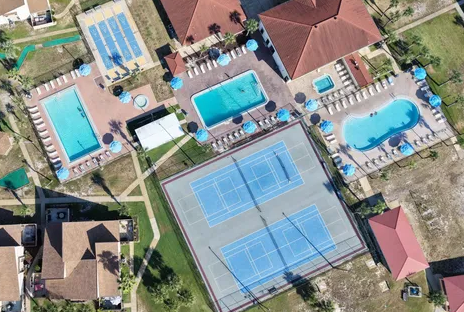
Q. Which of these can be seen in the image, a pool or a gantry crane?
pool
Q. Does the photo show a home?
Yes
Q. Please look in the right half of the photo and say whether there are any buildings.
Yes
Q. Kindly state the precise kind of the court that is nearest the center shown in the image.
tennis court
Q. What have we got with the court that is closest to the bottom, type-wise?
tennis court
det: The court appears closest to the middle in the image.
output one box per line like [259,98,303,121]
[181,141,313,228]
